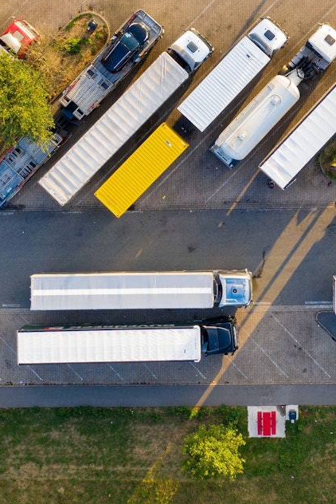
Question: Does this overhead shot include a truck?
Yes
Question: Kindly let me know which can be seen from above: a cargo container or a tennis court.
cargo container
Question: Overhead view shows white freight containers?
No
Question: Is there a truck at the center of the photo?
Yes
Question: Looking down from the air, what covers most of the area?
paved ground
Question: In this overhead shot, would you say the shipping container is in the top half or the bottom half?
top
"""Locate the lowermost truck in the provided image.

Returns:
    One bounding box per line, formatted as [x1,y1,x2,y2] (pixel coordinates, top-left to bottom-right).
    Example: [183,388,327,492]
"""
[17,318,239,365]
